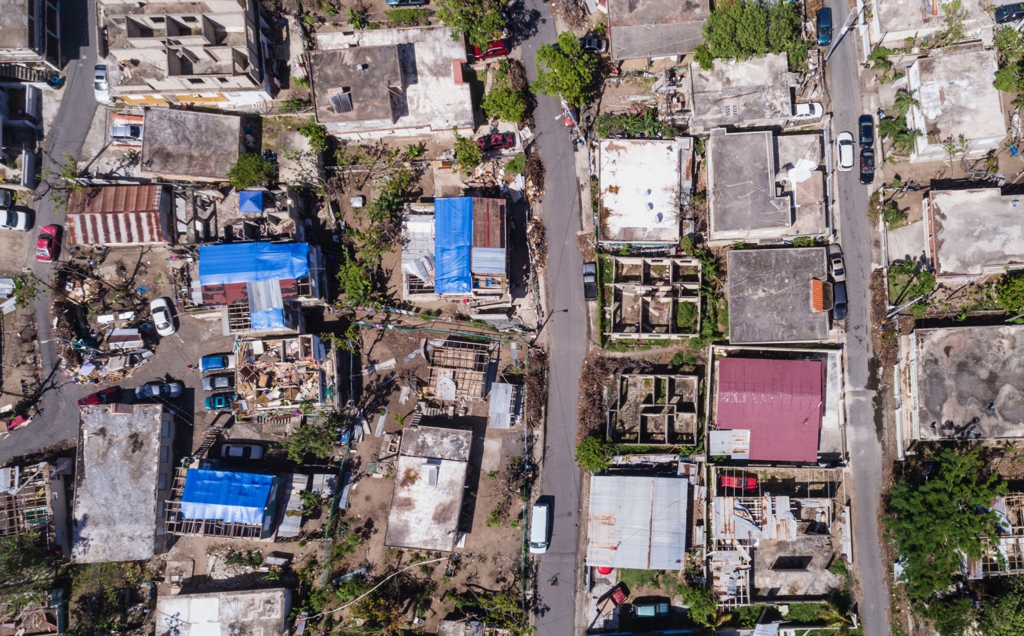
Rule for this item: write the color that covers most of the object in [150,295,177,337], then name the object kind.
white car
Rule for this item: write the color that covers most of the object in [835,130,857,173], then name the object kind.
white car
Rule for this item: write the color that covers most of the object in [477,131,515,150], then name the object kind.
red car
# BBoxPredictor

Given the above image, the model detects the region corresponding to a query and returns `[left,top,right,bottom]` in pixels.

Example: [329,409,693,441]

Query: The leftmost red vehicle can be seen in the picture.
[35,225,62,262]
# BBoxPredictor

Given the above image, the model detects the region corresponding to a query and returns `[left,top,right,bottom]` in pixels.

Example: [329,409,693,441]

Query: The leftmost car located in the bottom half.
[78,385,121,407]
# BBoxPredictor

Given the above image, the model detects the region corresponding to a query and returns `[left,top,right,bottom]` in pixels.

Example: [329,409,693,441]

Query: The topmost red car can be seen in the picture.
[473,40,509,59]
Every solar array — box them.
[331,93,352,114]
